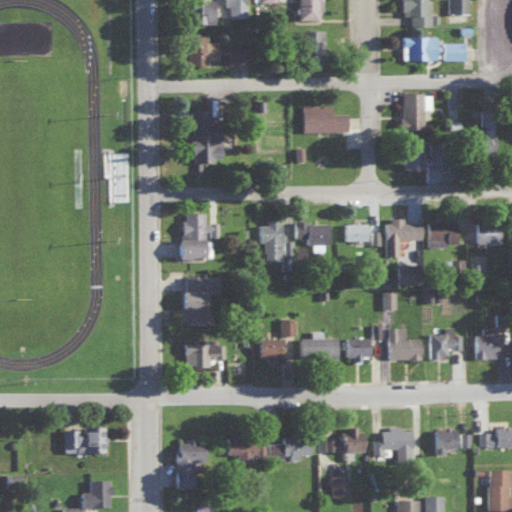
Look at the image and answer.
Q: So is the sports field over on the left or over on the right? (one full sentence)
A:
You can find the sports field on the left side of the picture.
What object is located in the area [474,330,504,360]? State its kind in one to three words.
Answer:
house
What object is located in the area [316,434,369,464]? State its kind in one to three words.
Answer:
house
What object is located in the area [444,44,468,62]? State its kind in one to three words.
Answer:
building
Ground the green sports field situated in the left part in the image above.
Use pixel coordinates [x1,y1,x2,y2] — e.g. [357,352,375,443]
[0,4,90,358]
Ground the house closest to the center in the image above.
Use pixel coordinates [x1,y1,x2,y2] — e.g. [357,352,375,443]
[258,222,288,262]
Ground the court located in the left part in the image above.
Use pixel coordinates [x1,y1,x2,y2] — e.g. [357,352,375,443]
[0,22,52,56]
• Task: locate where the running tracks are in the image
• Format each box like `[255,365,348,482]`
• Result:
[0,0,104,370]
